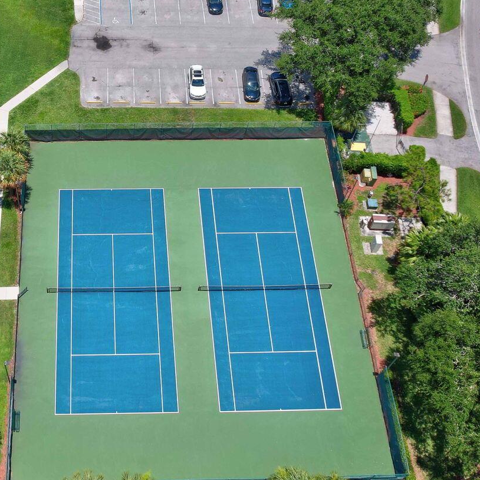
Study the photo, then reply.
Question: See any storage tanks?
No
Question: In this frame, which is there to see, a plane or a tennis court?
tennis court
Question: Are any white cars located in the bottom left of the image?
No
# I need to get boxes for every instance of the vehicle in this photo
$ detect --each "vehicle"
[258,0,277,17]
[282,0,298,9]
[242,66,265,101]
[189,65,210,100]
[271,72,295,106]
[208,0,225,13]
